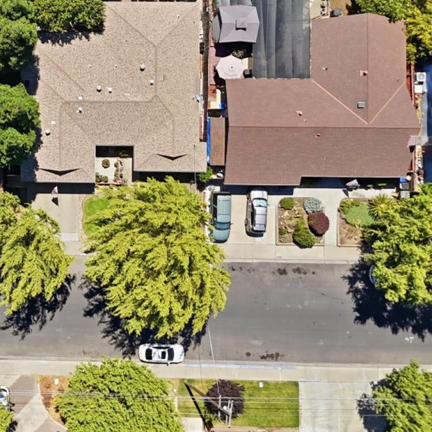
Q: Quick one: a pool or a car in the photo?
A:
car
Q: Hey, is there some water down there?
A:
No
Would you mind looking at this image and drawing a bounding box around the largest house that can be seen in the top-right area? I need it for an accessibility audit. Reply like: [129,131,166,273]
[217,12,421,185]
